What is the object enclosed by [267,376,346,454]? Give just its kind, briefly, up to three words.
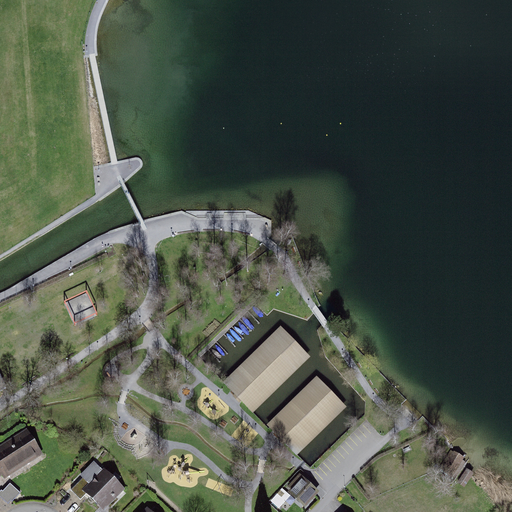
building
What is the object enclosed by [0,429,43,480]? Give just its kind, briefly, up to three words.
house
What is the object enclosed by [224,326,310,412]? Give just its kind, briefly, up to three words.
building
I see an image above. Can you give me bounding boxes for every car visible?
[60,494,70,504]
[68,502,79,512]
